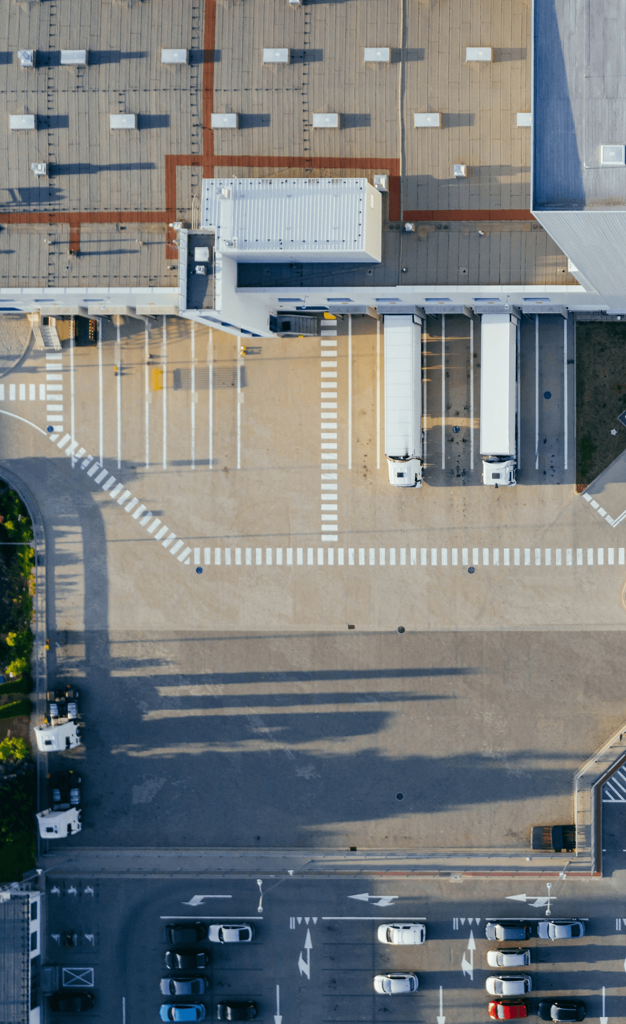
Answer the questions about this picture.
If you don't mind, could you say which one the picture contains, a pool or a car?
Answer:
car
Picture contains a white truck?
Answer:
Yes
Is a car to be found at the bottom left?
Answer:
Yes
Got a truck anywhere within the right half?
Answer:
Yes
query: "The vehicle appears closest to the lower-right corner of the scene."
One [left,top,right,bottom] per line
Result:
[539,998,586,1024]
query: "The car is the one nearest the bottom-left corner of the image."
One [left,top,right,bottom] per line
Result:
[50,990,98,1015]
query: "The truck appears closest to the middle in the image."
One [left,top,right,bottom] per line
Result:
[387,457,424,489]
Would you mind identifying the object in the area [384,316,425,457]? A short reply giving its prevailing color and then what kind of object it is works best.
white trailer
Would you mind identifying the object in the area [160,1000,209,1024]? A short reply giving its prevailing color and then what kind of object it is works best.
blue car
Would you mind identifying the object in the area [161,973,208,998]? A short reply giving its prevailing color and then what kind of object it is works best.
blue car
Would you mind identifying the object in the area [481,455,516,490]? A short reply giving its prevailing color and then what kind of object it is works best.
white truck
